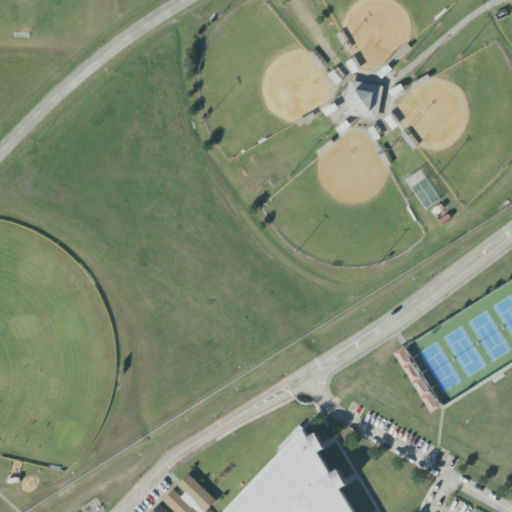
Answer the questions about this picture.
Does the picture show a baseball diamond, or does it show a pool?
baseball diamond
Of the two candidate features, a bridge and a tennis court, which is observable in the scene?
tennis court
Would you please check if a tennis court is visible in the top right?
No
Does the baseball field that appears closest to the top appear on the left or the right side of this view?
right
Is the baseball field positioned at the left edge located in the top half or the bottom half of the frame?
bottom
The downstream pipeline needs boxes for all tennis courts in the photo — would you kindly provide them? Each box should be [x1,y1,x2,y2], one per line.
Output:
[445,326,486,376]
[420,341,462,392]
[494,296,512,336]
[470,311,510,361]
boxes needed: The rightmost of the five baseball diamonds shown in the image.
[394,40,512,206]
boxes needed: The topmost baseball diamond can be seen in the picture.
[324,0,458,72]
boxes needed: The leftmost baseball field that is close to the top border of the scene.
[199,0,337,159]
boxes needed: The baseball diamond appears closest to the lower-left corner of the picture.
[0,220,116,470]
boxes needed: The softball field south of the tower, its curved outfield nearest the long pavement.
[264,128,424,267]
